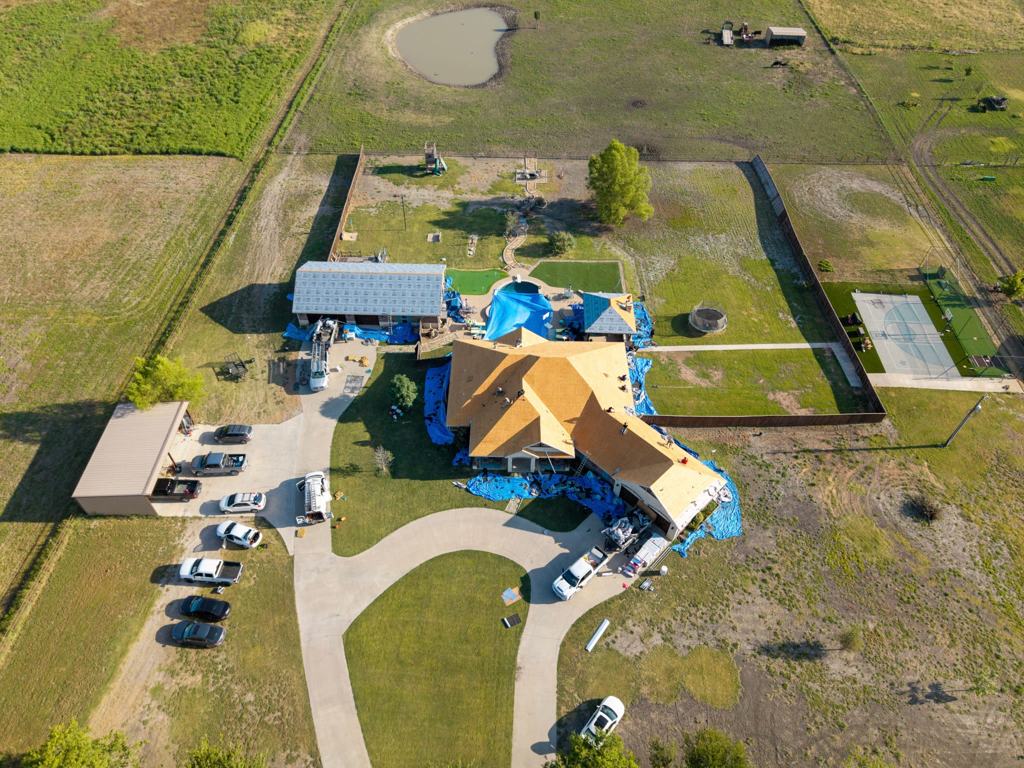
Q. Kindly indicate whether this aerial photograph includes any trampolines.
Yes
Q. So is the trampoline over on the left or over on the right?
right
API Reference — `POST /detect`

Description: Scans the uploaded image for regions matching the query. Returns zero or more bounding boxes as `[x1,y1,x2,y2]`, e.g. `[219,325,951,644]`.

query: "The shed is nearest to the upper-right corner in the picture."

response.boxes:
[764,27,809,46]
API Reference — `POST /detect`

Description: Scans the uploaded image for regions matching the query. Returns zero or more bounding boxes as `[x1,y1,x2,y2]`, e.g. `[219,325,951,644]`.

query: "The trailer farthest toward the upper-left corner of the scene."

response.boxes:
[208,346,251,384]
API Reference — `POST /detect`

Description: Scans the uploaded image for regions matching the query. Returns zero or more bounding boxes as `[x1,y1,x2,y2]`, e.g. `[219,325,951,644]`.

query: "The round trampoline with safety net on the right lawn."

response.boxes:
[690,298,730,338]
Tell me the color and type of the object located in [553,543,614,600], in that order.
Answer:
white truck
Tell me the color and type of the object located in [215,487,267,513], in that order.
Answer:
white car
